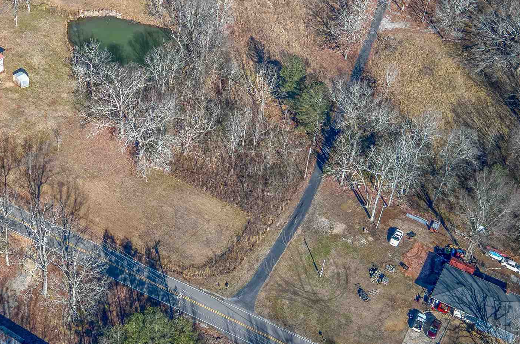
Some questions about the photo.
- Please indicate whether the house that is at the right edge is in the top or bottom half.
bottom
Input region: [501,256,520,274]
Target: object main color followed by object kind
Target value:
white car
